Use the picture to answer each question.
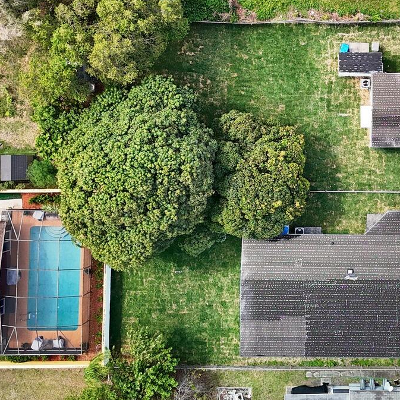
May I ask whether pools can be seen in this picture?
Yes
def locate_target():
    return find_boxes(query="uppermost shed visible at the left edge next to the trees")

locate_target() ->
[0,154,33,181]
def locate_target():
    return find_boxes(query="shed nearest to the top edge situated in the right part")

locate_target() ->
[339,51,383,72]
